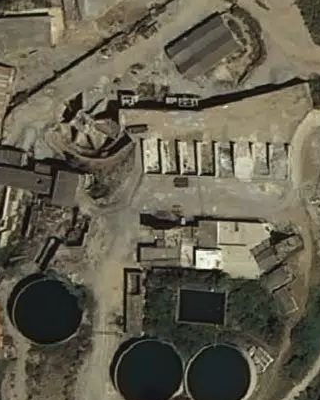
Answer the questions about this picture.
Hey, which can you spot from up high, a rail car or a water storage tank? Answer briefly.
water storage tank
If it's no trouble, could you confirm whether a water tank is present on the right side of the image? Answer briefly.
Yes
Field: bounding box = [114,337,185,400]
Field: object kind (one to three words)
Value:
water tank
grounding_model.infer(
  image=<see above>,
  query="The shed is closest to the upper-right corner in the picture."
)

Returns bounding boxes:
[168,14,244,77]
